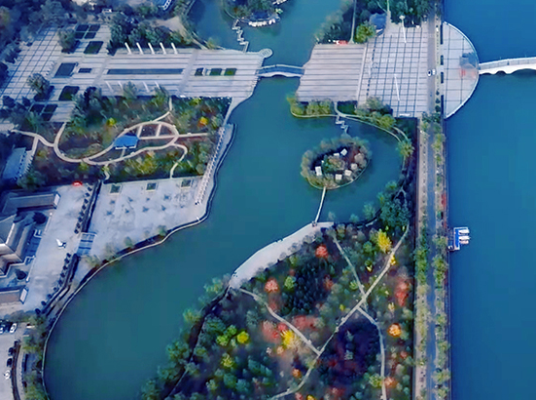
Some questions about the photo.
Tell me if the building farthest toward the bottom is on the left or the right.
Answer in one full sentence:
It is on the left.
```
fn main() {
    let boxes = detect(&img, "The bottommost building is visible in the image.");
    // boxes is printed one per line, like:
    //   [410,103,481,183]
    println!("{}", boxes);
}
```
[0,288,30,307]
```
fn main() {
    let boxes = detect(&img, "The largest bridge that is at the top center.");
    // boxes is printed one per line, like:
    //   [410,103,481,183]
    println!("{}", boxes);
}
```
[256,64,306,77]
